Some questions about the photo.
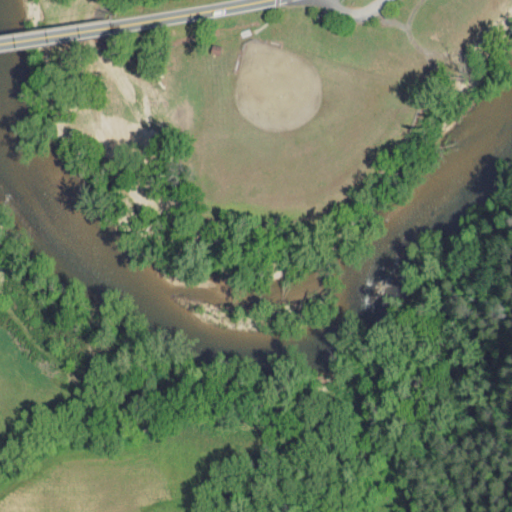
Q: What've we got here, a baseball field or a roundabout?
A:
baseball field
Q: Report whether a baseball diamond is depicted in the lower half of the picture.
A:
No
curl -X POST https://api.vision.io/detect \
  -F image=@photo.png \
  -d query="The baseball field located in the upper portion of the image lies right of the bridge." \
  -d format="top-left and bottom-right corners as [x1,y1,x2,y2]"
[235,38,322,131]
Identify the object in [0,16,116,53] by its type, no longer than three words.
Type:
bridge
